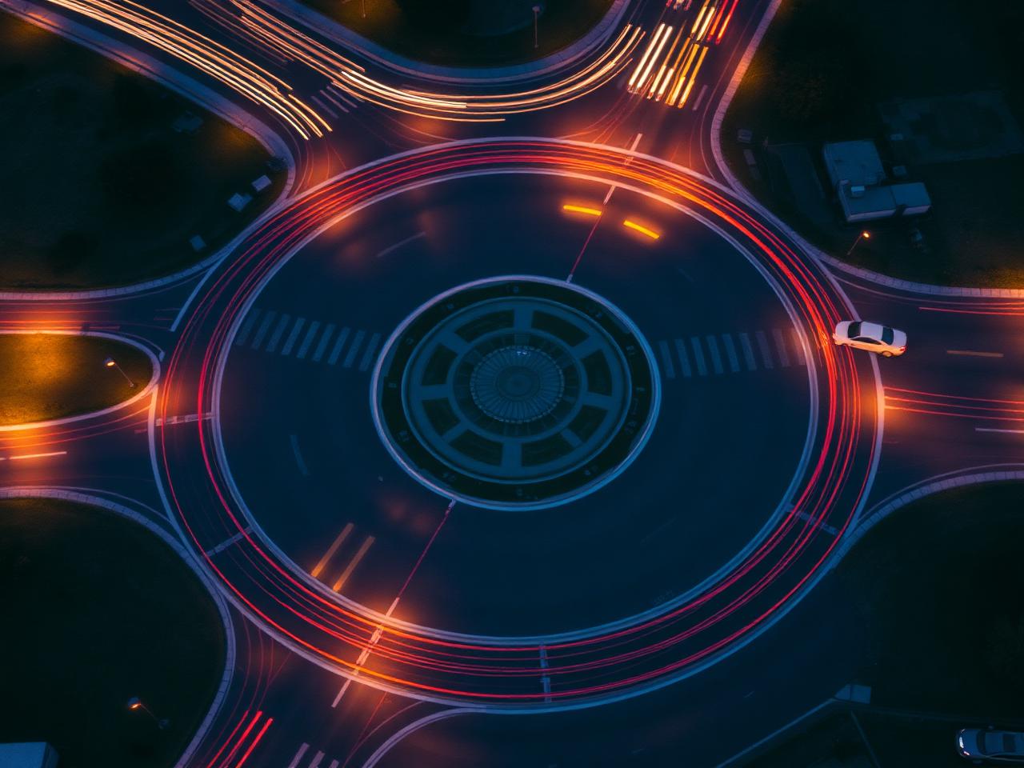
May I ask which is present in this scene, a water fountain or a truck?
water fountain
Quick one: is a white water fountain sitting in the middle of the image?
No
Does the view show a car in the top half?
Yes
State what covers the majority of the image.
paved ground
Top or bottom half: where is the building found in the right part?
top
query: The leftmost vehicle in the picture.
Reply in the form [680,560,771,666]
[835,317,908,355]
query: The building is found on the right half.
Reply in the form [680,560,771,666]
[821,140,930,227]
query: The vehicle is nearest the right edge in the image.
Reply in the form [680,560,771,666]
[956,722,1024,767]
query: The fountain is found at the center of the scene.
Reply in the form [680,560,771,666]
[471,339,568,421]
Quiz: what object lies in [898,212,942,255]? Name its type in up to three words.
car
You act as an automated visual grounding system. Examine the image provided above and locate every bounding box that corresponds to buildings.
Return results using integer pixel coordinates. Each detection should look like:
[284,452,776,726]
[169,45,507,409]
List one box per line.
[821,140,930,227]
[0,741,75,768]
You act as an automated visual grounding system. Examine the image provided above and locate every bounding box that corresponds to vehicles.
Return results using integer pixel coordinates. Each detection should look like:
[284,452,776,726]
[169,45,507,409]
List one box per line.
[835,317,908,355]
[898,212,942,255]
[956,722,1024,767]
